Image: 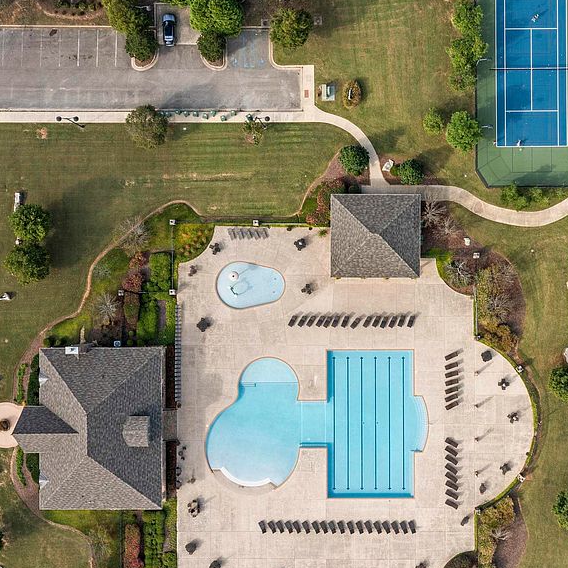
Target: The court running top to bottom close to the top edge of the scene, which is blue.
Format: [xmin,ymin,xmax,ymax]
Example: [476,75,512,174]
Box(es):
[496,0,568,147]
